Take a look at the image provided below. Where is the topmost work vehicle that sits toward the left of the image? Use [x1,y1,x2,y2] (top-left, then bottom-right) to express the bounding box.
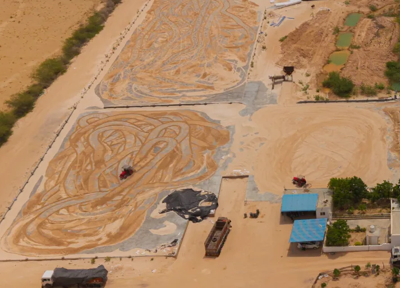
[117,158,139,176]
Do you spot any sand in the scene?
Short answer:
Yes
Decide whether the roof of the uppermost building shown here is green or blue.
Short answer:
blue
